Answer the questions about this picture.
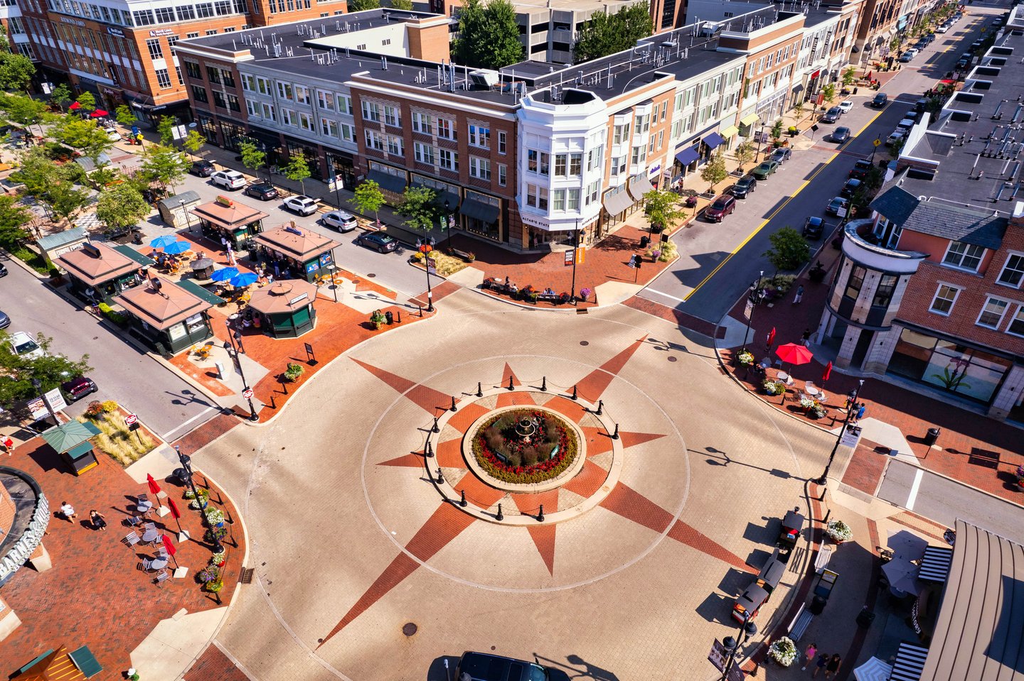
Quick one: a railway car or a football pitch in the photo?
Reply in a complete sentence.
This aerial view contains a railway car.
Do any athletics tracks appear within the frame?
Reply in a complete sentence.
No, the frame has no athletics track in it.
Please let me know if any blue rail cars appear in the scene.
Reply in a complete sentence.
No, I can see no blue rail car in this picture.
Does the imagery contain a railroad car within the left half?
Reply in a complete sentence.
No, no railroad car is visible within the left half.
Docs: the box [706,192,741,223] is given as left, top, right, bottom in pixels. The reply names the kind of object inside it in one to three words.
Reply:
car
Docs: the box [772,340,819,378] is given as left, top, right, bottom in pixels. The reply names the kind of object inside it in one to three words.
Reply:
umbrella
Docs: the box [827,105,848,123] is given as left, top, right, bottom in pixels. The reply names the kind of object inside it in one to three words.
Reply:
car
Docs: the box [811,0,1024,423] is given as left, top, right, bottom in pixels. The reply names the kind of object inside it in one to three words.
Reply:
building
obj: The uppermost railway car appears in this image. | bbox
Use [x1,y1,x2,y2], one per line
[771,537,796,569]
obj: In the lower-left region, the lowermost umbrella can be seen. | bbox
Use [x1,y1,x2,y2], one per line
[167,542,192,581]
